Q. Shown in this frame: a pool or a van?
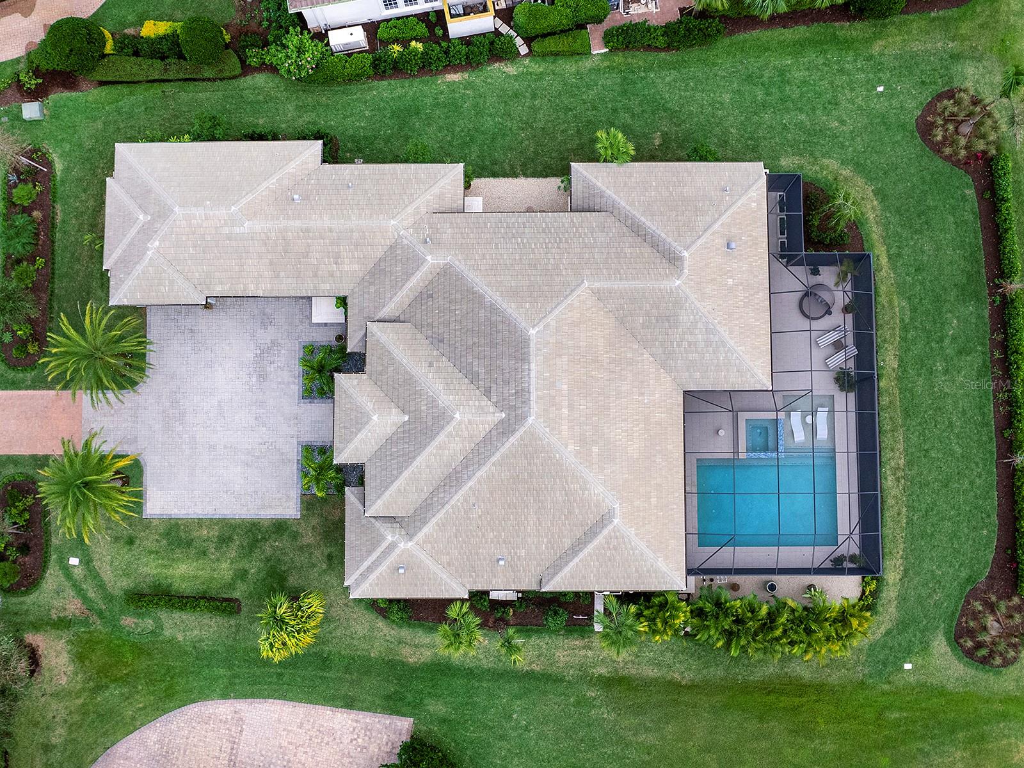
pool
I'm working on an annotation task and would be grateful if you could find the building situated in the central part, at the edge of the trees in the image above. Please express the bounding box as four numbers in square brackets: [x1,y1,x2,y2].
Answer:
[101,136,775,603]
